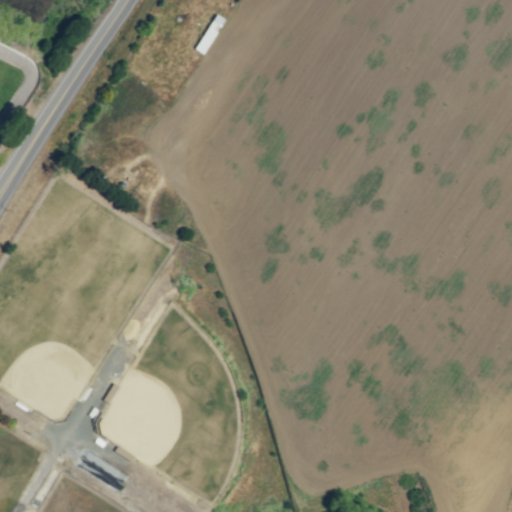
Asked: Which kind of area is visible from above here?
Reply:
farmland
